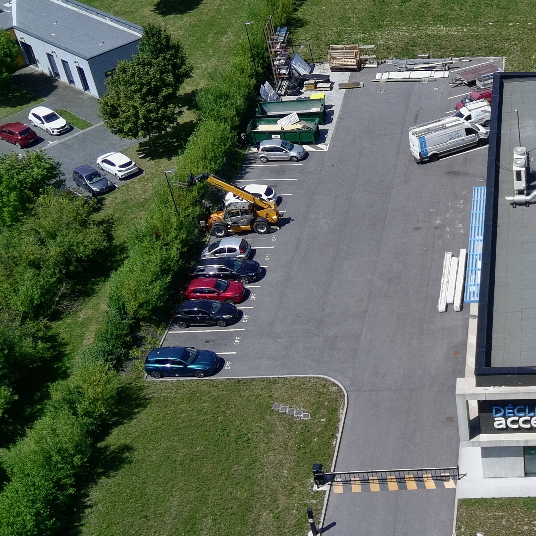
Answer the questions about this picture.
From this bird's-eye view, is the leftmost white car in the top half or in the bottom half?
top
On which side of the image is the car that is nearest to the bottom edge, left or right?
left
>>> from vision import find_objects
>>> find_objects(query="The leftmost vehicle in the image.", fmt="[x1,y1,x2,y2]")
[0,120,34,147]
